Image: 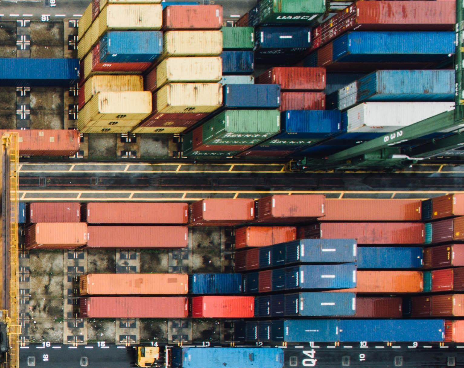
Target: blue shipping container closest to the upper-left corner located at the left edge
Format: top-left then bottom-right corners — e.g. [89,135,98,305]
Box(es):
[0,58,80,86]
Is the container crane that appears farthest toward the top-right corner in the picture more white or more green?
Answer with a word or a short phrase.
green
